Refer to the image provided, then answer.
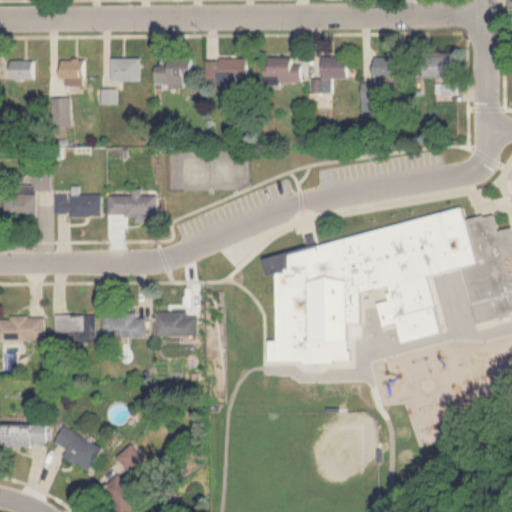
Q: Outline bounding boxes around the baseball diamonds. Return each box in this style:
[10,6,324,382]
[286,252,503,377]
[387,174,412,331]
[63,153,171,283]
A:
[314,412,380,483]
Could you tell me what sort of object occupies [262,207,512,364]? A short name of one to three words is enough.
building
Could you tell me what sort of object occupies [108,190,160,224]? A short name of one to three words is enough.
house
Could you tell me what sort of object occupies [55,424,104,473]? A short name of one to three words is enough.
house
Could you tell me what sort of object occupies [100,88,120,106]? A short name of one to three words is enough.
building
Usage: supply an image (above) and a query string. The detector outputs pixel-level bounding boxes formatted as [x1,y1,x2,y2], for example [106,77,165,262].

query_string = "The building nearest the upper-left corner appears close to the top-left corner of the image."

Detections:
[6,60,36,82]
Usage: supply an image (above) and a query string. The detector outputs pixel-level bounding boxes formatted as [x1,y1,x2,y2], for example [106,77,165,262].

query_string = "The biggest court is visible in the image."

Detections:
[170,150,250,191]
